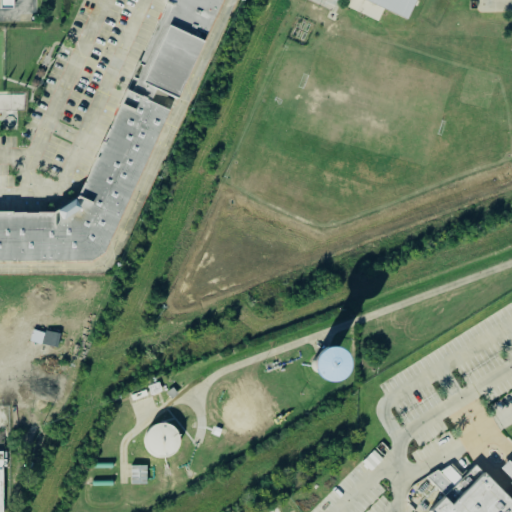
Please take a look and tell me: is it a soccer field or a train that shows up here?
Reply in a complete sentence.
I can see a soccer field in this picture.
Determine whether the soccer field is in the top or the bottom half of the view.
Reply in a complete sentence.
It is in the top half that the soccer field appears.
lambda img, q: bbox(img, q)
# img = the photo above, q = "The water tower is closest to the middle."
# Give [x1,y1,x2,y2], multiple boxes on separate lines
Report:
[312,346,353,382]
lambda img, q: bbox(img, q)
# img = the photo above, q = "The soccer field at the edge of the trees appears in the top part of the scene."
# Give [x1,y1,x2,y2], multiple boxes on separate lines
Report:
[226,26,507,223]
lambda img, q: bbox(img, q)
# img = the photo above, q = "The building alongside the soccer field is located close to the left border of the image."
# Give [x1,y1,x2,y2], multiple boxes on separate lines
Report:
[0,91,170,261]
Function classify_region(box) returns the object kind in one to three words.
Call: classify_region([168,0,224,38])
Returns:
building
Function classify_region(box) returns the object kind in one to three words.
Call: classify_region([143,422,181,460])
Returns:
storage tank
